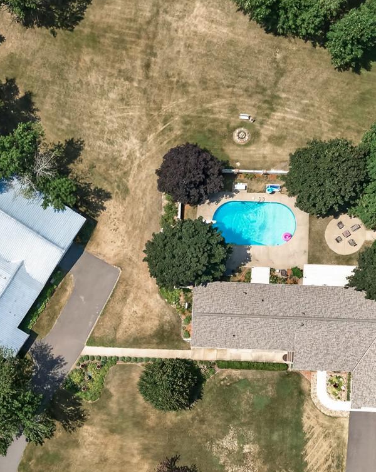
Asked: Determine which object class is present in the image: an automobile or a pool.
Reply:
pool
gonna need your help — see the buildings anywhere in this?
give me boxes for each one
[190,282,376,413]
[0,168,86,377]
